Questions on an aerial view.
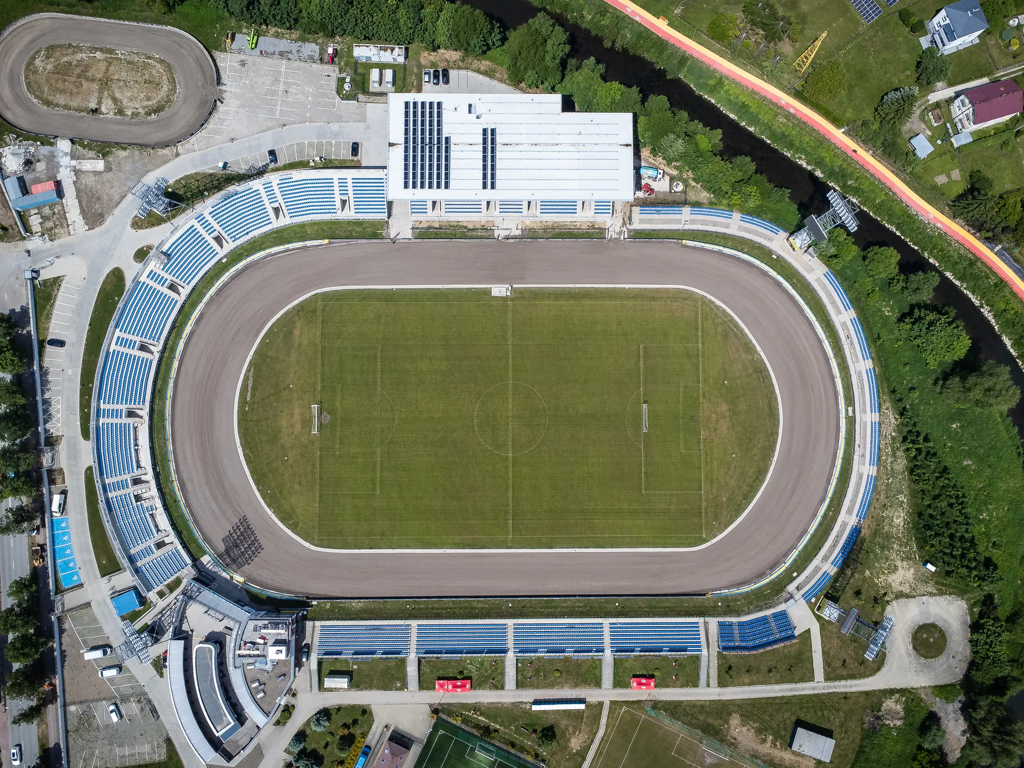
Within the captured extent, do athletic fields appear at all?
Yes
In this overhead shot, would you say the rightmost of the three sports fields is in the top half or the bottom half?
bottom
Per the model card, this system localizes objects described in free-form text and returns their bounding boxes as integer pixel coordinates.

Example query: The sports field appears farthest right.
[594,708,745,768]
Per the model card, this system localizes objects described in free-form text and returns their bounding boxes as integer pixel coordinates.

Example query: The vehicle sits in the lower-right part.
[922,561,940,573]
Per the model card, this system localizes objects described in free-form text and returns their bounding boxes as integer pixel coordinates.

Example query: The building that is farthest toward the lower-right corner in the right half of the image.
[786,720,835,762]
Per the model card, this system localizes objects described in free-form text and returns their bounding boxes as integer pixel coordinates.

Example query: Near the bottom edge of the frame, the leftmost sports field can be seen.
[413,716,537,768]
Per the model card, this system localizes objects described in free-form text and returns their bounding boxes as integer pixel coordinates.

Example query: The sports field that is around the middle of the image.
[317,302,703,538]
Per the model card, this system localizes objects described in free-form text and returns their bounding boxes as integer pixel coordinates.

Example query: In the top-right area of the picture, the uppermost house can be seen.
[929,0,988,50]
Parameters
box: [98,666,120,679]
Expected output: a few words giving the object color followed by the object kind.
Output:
white vehicle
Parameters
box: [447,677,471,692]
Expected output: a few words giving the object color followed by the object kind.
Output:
red tent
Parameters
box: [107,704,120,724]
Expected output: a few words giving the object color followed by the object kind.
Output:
white vehicle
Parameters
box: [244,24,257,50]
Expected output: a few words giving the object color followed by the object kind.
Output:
green vehicle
